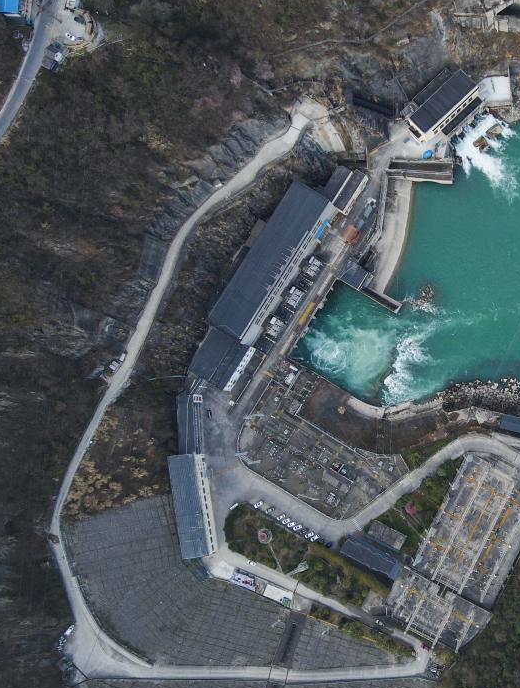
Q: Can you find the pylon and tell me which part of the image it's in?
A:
bottom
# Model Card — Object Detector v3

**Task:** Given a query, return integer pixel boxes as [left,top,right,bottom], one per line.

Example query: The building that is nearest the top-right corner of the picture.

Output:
[402,70,481,139]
